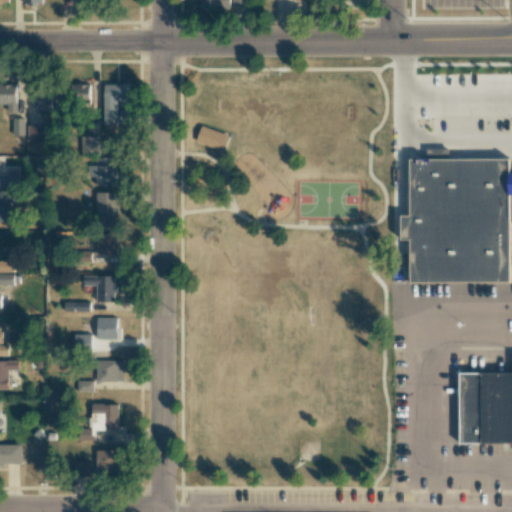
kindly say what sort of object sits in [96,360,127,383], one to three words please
house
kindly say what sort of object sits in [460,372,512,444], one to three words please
building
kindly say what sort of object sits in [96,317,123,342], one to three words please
house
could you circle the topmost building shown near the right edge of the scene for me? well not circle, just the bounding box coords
[400,150,512,282]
